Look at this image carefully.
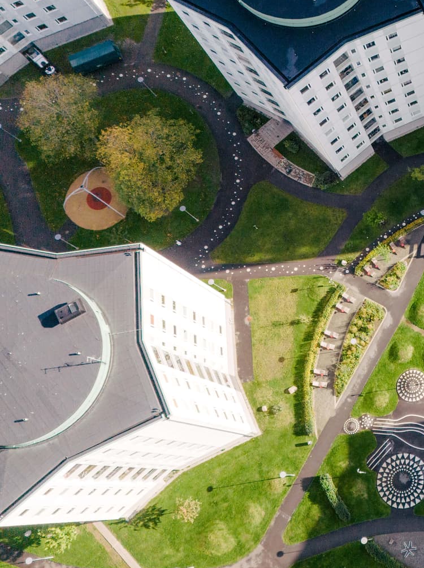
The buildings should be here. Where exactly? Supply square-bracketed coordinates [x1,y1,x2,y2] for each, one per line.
[173,0,424,176]
[0,247,253,517]
[0,0,112,79]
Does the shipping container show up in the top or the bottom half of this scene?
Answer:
top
